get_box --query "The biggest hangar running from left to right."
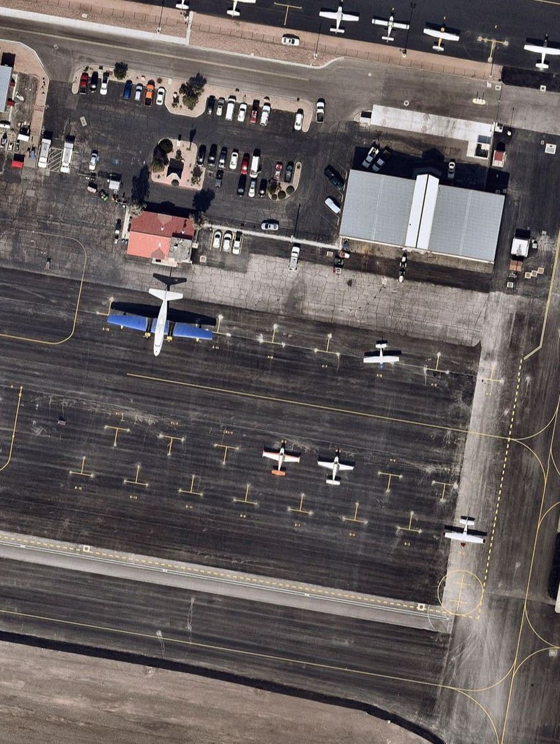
[339,168,506,265]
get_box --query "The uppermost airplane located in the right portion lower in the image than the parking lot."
[363,343,400,369]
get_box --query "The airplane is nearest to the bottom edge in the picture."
[446,522,487,547]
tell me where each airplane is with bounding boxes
[424,25,460,50]
[227,0,256,15]
[363,343,400,369]
[319,5,359,37]
[525,39,560,68]
[262,446,300,474]
[372,12,410,43]
[318,456,355,484]
[108,283,213,360]
[446,522,487,547]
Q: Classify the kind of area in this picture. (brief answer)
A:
airport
